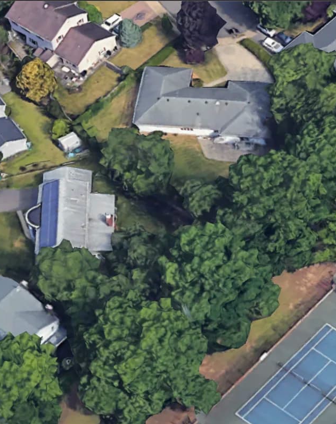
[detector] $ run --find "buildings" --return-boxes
[57,134,80,156]
[290,16,336,61]
[5,0,119,76]
[0,274,66,345]
[134,67,269,145]
[0,97,27,164]
[16,166,115,262]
